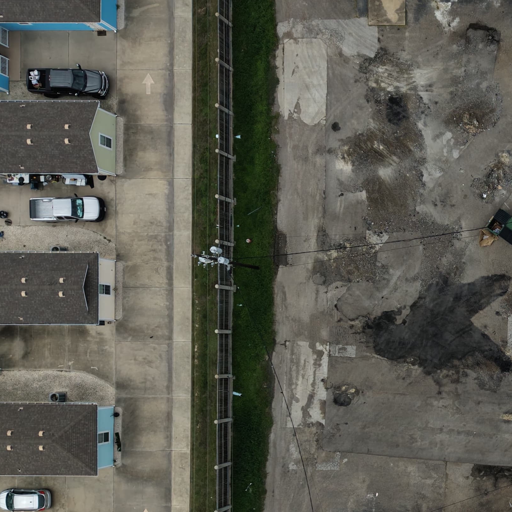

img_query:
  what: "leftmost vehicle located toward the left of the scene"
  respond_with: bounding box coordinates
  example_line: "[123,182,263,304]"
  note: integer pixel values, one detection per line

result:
[0,482,53,512]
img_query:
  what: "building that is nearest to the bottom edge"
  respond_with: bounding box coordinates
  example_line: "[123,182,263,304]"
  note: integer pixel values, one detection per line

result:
[0,399,115,476]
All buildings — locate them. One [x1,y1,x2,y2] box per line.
[0,399,115,476]
[0,0,117,94]
[0,249,117,326]
[0,98,117,175]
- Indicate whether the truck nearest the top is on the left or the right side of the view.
left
